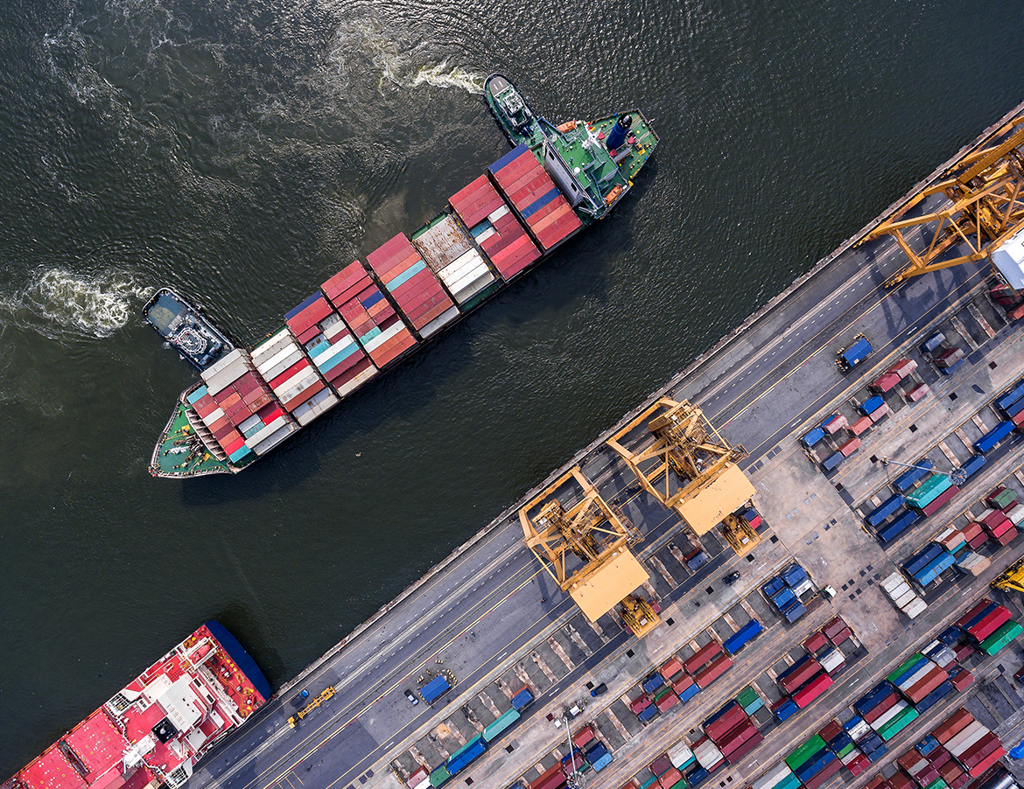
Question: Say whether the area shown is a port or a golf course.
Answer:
port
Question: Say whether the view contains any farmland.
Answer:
No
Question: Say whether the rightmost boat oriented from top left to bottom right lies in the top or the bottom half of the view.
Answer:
top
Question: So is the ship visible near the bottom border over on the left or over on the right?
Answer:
left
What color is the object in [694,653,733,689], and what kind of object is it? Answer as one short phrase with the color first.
red shipping container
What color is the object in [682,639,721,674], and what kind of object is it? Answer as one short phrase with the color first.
red shipping container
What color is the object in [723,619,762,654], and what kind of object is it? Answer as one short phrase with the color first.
blue shipping container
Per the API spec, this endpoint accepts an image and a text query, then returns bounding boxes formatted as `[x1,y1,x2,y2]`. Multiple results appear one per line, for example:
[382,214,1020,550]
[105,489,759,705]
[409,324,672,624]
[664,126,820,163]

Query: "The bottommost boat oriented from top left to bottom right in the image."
[147,289,233,372]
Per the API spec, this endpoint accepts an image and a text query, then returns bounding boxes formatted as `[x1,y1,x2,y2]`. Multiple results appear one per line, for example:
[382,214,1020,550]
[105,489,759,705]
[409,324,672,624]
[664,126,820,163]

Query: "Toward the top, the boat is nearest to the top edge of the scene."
[483,69,545,152]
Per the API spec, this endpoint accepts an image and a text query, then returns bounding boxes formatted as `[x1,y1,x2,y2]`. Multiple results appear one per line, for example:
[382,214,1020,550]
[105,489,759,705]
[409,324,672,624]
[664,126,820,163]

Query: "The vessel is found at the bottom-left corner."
[0,620,271,789]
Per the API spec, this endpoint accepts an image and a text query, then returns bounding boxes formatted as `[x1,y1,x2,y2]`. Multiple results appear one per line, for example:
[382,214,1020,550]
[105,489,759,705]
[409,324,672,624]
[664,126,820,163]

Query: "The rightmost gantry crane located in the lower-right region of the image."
[989,558,1024,594]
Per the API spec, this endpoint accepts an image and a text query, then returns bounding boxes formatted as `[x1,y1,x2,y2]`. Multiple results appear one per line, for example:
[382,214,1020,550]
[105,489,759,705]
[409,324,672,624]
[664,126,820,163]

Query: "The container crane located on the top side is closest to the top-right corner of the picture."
[939,111,1024,208]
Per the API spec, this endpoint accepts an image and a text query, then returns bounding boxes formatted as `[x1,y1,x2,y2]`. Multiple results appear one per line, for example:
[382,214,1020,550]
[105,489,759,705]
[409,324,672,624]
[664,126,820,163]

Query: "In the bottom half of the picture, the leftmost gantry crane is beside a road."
[510,461,660,638]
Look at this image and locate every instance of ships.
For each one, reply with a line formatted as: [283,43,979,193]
[146,108,660,480]
[0,620,271,789]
